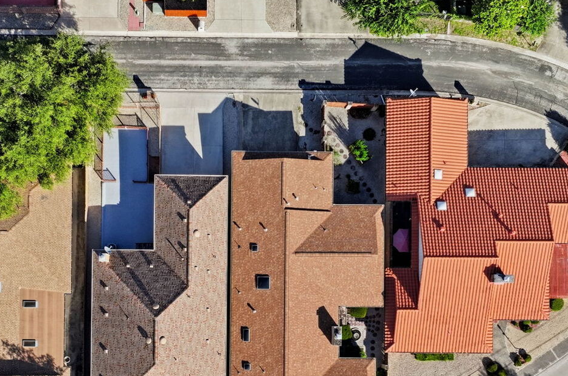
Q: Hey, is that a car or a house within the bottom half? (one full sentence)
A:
What appears within the bottom half is a house.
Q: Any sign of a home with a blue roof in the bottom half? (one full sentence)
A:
No, there's no home with a blue roof to be seen in the bottom half.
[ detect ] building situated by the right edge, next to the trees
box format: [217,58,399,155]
[383,88,568,353]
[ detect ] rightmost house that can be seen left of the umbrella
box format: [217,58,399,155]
[229,150,386,376]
